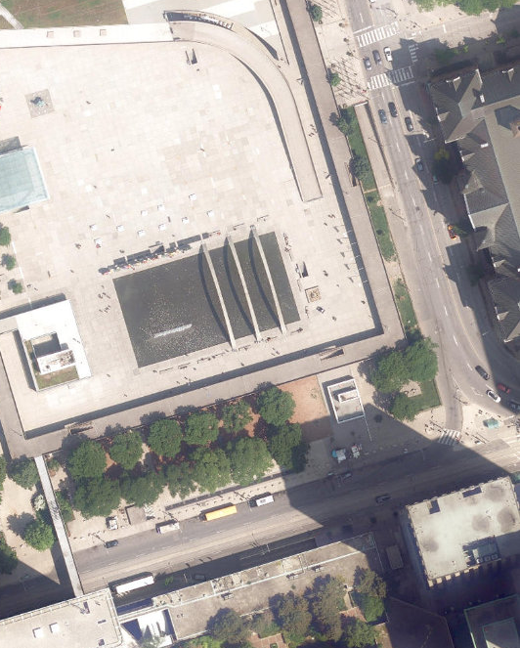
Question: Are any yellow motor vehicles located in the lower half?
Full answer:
Yes, there is a yellow motor vehicle in the lower half.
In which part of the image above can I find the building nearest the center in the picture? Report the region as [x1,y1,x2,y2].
[325,377,373,440]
